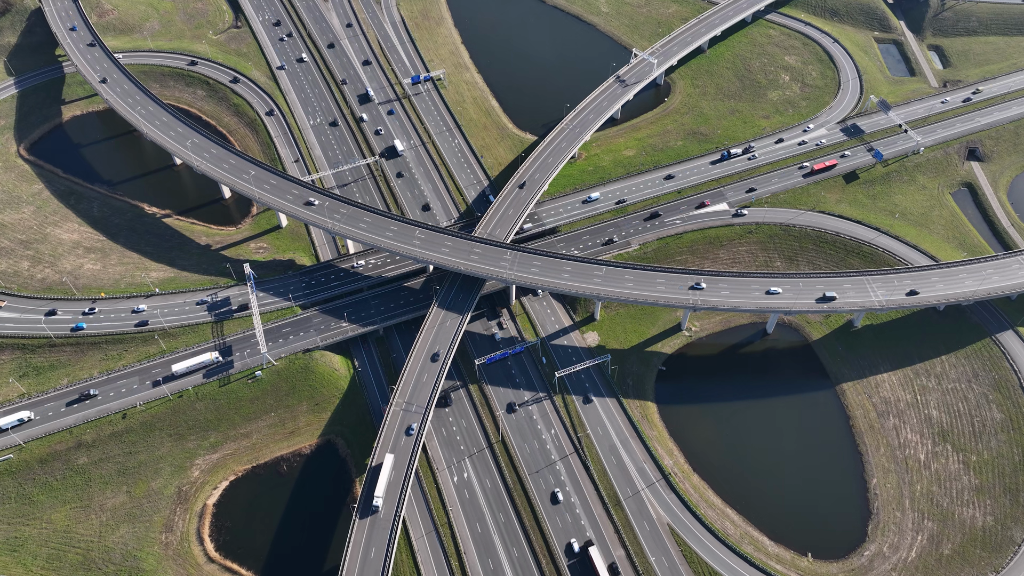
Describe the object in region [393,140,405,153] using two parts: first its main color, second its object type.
white vehicle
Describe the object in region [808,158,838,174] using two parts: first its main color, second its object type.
red vehicle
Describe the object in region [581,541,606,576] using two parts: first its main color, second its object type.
white truck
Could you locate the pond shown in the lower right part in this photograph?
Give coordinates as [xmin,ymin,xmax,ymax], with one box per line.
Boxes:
[656,322,868,560]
